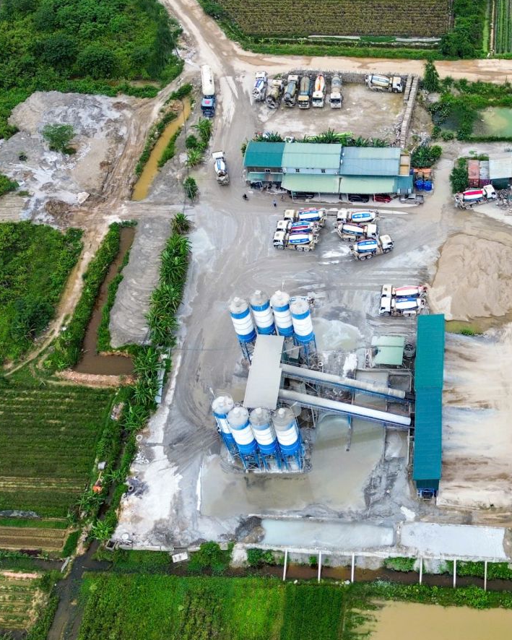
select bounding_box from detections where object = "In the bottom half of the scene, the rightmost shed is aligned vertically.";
[413,314,443,491]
